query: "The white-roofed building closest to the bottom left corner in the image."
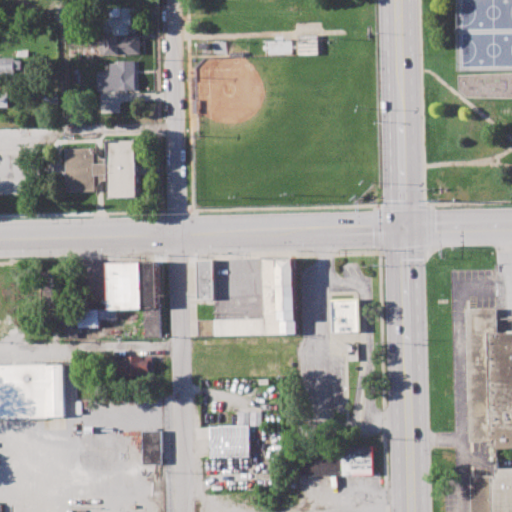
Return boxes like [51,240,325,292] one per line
[0,364,63,420]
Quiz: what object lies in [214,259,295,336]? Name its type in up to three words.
building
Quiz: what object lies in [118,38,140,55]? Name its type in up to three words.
house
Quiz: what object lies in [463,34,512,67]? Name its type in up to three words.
sports court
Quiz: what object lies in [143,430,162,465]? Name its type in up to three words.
building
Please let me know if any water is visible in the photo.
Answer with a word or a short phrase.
No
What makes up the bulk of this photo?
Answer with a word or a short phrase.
paved ground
